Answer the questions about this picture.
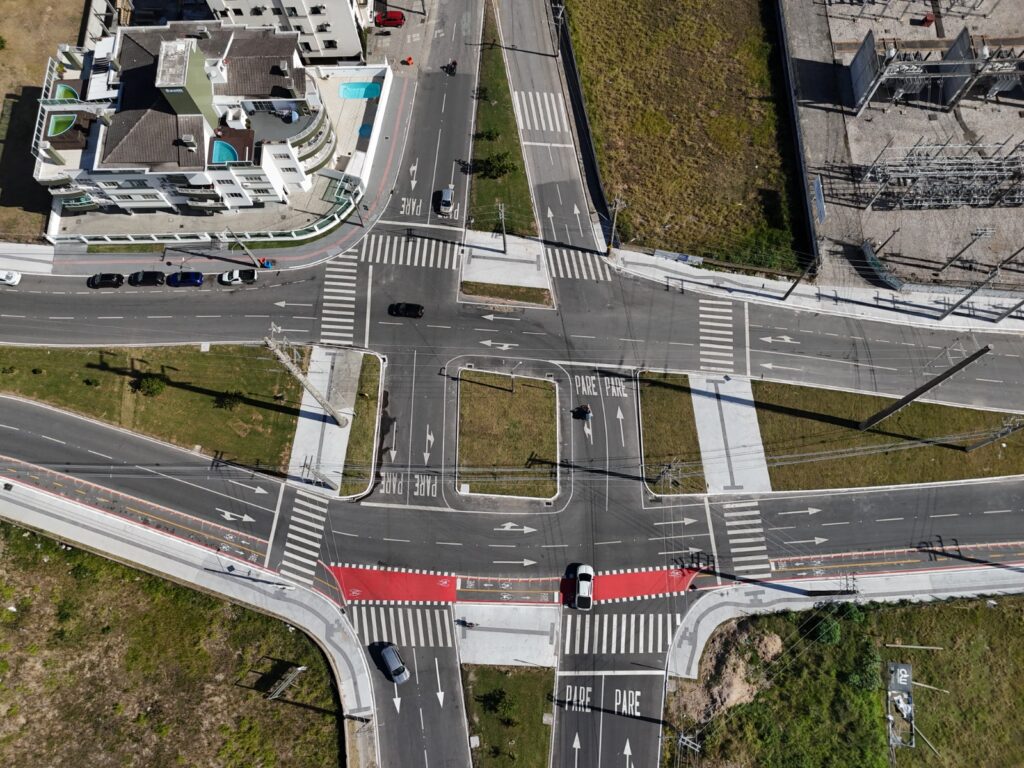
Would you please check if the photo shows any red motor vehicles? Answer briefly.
Yes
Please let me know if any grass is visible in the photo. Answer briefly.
Yes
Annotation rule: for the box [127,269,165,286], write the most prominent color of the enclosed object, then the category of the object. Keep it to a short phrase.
black car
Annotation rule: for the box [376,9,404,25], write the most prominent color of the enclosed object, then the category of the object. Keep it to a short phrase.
red car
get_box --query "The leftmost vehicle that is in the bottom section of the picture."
[378,641,409,687]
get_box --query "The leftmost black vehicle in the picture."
[85,270,123,287]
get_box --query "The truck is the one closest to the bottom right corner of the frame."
[574,564,595,612]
